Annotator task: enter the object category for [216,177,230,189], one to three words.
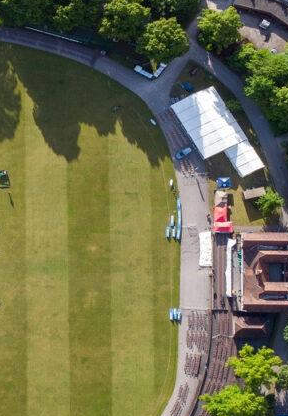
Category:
gazebo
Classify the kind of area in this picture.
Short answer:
sports ground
